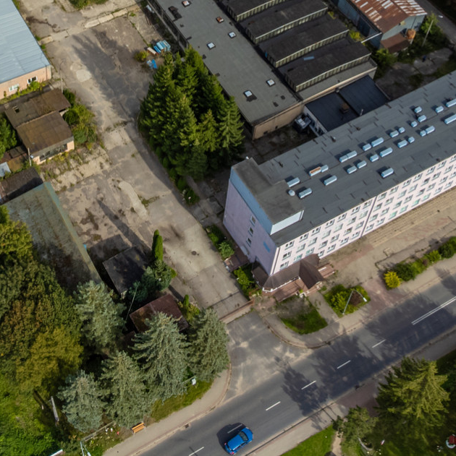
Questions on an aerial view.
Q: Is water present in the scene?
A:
No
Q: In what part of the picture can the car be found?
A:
bottom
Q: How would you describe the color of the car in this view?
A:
blue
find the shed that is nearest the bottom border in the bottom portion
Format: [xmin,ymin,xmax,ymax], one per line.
[130,293,188,340]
